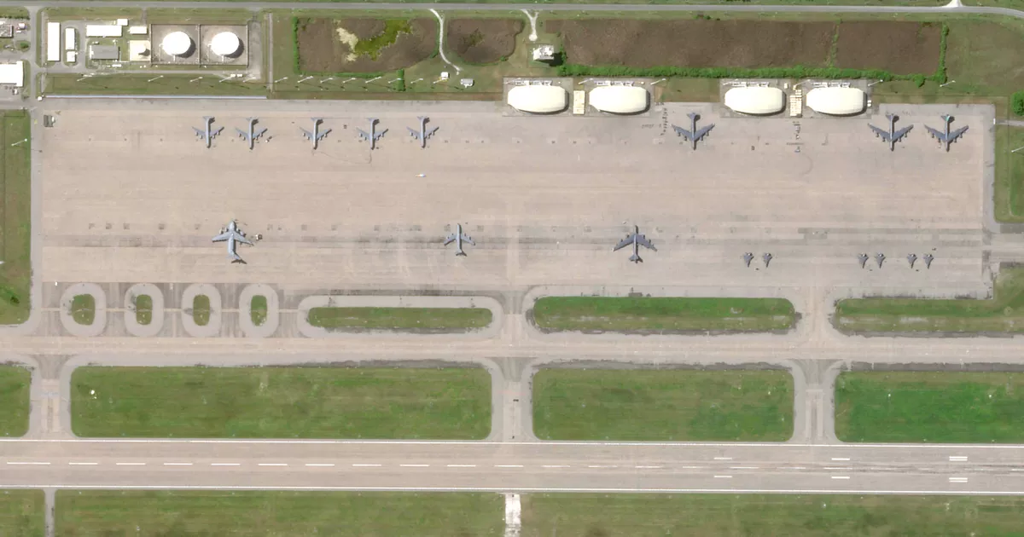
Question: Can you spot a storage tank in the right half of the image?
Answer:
No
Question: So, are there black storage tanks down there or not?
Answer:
No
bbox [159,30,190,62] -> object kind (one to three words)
storage tank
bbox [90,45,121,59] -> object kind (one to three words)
building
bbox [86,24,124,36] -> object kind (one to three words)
building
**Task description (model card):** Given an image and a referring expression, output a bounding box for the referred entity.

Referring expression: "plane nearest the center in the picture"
[444,223,475,256]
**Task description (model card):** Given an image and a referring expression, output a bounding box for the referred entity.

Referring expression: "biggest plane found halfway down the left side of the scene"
[214,222,253,261]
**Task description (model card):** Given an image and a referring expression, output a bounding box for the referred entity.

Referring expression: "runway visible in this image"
[0,436,1024,496]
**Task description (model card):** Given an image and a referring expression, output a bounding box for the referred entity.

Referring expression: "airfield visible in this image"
[0,100,1024,496]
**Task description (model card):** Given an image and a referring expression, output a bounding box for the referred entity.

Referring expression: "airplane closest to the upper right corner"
[926,114,969,152]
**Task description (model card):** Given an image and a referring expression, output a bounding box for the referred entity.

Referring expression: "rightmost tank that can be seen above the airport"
[207,30,239,62]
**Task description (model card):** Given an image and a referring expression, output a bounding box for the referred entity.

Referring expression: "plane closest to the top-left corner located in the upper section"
[193,116,224,148]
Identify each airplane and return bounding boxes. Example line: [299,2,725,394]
[214,222,253,261]
[907,254,917,269]
[923,254,934,269]
[875,254,885,267]
[444,223,475,256]
[762,252,772,267]
[858,254,868,267]
[870,113,914,151]
[300,117,331,149]
[743,253,753,266]
[357,117,388,149]
[614,226,658,263]
[672,112,716,150]
[193,116,224,148]
[407,115,438,148]
[236,117,267,149]
[926,114,969,152]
